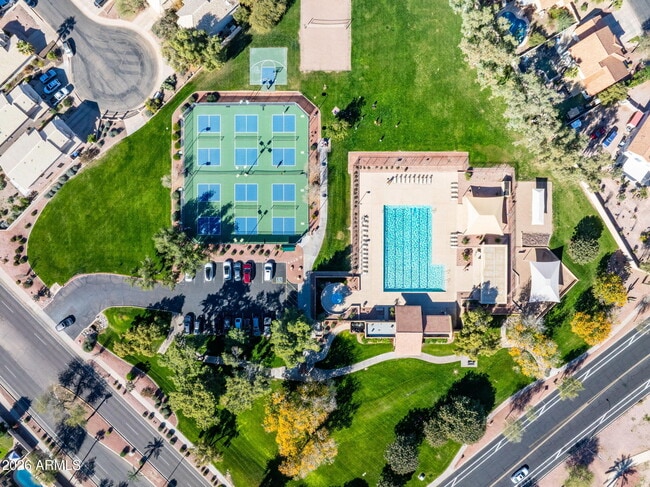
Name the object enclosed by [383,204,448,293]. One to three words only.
swimming pool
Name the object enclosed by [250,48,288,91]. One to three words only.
basketball court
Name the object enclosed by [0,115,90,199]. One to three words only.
house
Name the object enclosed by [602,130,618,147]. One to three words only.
car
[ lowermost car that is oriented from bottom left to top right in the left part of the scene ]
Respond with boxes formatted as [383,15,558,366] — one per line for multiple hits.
[58,316,76,330]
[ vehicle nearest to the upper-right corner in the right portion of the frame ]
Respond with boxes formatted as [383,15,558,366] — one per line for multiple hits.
[625,108,649,132]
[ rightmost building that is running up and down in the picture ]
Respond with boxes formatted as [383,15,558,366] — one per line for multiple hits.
[615,112,650,197]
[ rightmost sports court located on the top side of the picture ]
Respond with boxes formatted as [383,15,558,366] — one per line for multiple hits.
[300,0,352,71]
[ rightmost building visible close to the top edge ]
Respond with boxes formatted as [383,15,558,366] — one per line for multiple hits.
[564,15,631,98]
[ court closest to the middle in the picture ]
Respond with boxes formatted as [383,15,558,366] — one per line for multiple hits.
[271,184,295,234]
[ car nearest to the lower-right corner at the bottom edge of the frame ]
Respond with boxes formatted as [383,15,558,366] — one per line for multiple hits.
[510,466,529,482]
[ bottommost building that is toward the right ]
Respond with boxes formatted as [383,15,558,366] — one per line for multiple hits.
[366,305,453,356]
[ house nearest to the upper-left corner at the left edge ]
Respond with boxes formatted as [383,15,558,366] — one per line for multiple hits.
[0,16,45,90]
